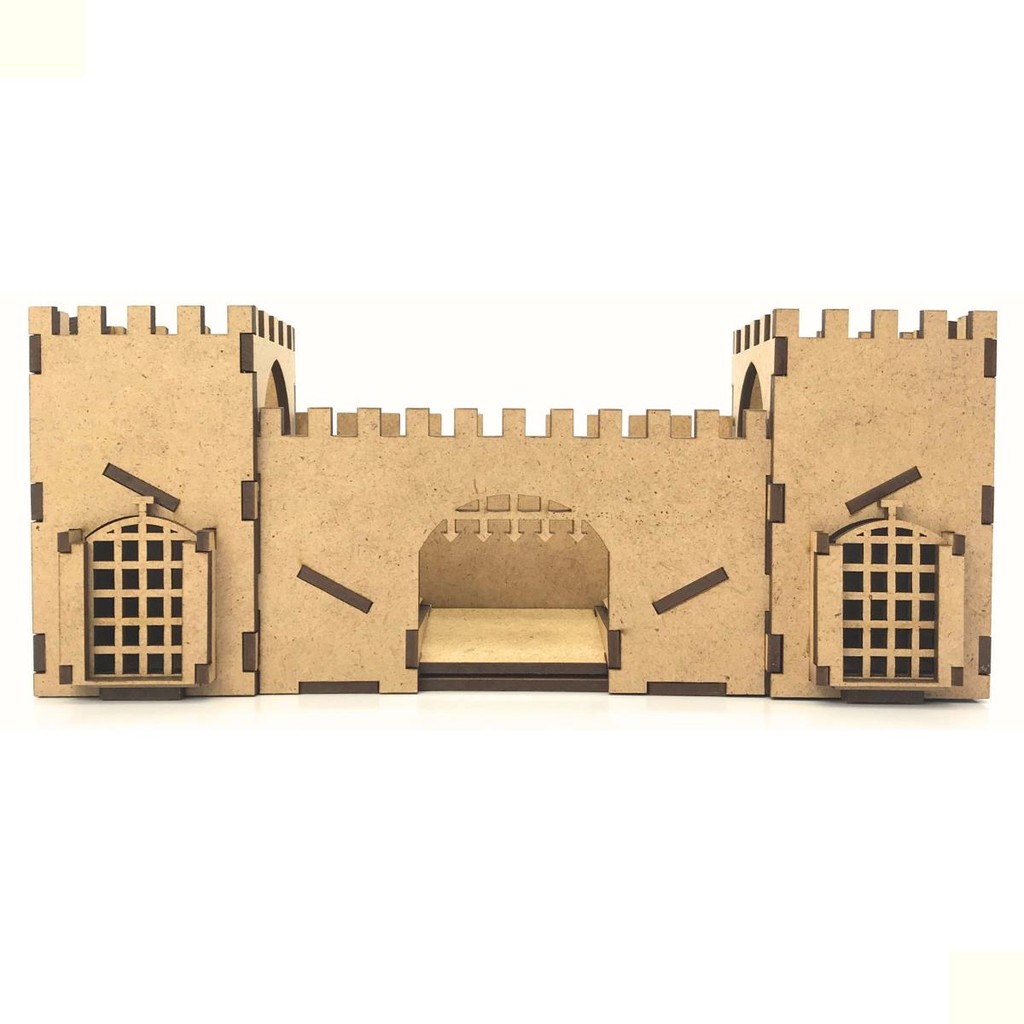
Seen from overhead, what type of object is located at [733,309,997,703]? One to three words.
building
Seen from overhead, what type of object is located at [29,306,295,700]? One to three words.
building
